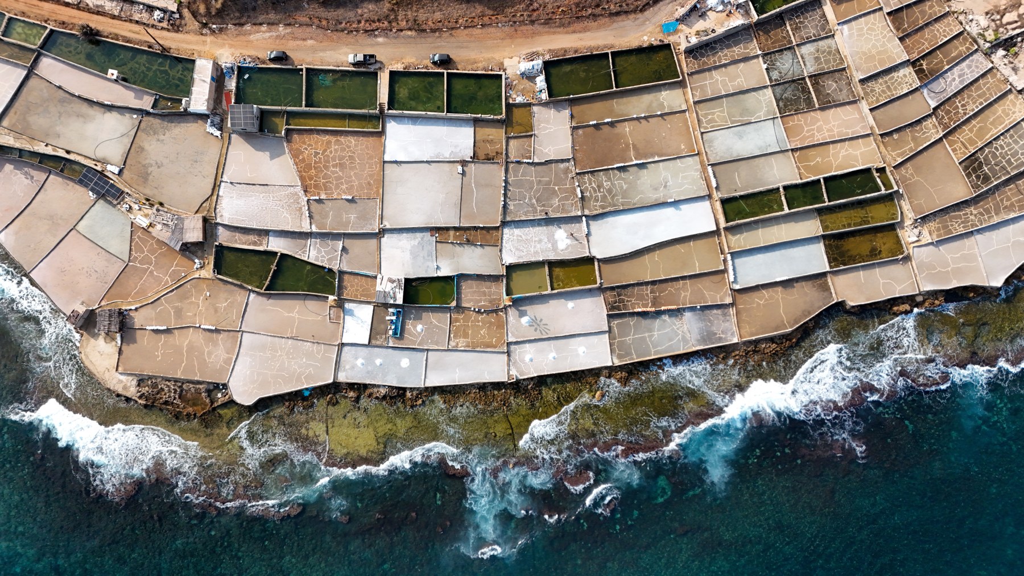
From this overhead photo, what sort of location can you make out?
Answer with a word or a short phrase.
industrial area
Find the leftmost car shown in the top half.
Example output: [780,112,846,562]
[265,47,288,61]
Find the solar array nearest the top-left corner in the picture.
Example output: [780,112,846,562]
[77,167,126,200]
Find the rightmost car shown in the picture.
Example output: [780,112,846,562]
[427,50,451,64]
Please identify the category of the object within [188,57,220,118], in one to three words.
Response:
building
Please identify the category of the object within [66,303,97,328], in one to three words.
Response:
shed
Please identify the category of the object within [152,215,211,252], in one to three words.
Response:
shed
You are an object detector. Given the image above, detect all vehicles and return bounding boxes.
[427,50,451,64]
[346,50,378,65]
[265,47,288,61]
